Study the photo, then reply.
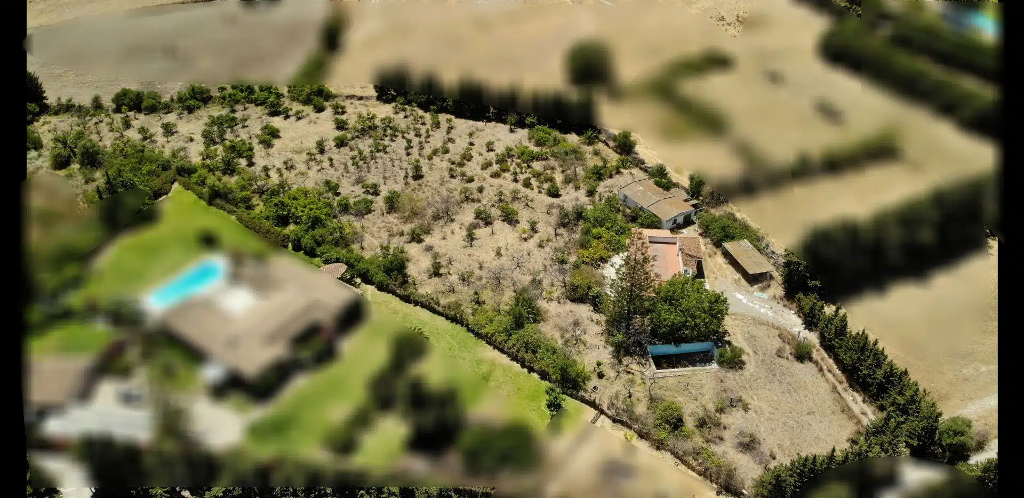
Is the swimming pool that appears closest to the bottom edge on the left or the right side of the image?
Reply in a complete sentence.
It is on the right.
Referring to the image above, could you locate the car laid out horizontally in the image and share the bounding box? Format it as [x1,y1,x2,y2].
[110,387,146,405]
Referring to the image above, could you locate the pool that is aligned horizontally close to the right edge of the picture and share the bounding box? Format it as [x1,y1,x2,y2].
[964,17,1002,30]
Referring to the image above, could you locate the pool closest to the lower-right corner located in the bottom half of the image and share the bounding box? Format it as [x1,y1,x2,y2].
[645,340,725,373]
